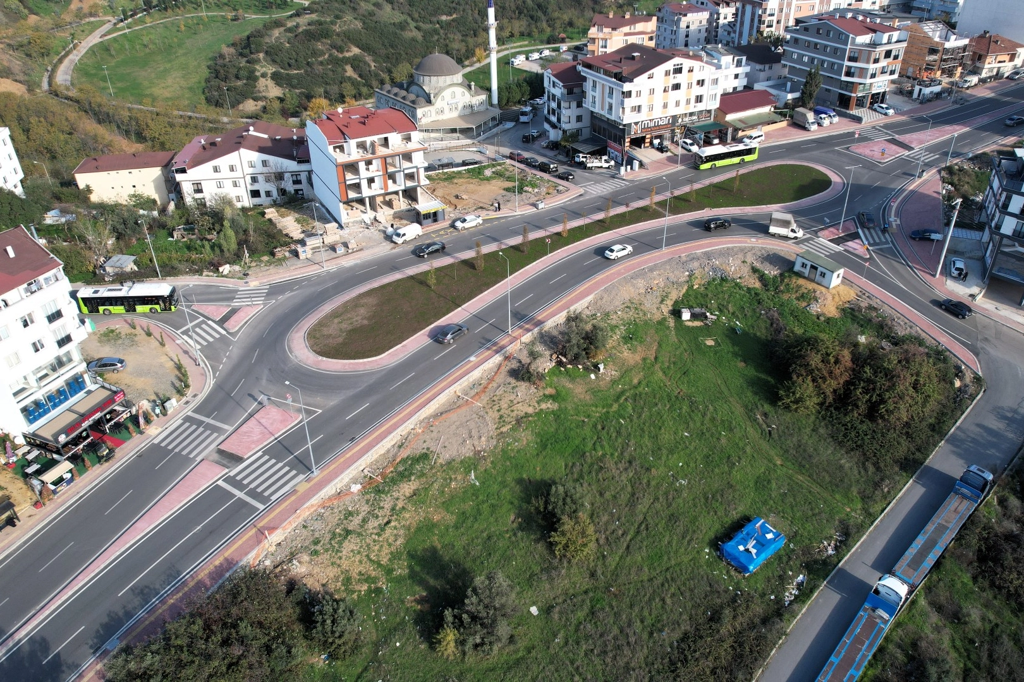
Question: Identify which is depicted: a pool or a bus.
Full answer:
The image shows a bus.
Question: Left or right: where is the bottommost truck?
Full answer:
You can find the bottommost truck on the right side of the picture.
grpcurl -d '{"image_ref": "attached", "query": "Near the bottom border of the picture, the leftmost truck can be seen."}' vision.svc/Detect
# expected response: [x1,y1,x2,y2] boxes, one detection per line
[818,570,929,682]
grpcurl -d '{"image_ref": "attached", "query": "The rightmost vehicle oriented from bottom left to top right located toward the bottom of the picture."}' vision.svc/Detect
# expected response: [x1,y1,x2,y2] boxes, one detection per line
[904,469,997,577]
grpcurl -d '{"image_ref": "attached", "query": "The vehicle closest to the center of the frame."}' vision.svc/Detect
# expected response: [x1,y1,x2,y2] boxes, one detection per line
[430,323,470,346]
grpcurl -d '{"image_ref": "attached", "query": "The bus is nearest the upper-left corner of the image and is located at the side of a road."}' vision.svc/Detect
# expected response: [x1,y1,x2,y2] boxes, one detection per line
[71,282,179,316]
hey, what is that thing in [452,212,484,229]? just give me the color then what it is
white car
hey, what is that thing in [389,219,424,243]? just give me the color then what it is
white vehicle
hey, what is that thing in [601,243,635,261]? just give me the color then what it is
white car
